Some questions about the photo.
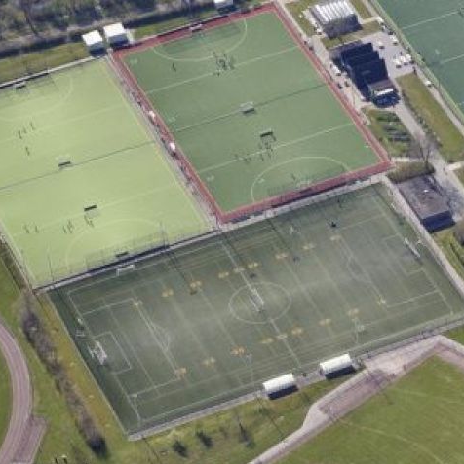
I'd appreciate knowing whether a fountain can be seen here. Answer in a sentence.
No, there's no fountain here.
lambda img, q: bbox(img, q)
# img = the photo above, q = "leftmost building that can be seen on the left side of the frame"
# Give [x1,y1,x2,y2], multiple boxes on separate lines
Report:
[82,31,104,52]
